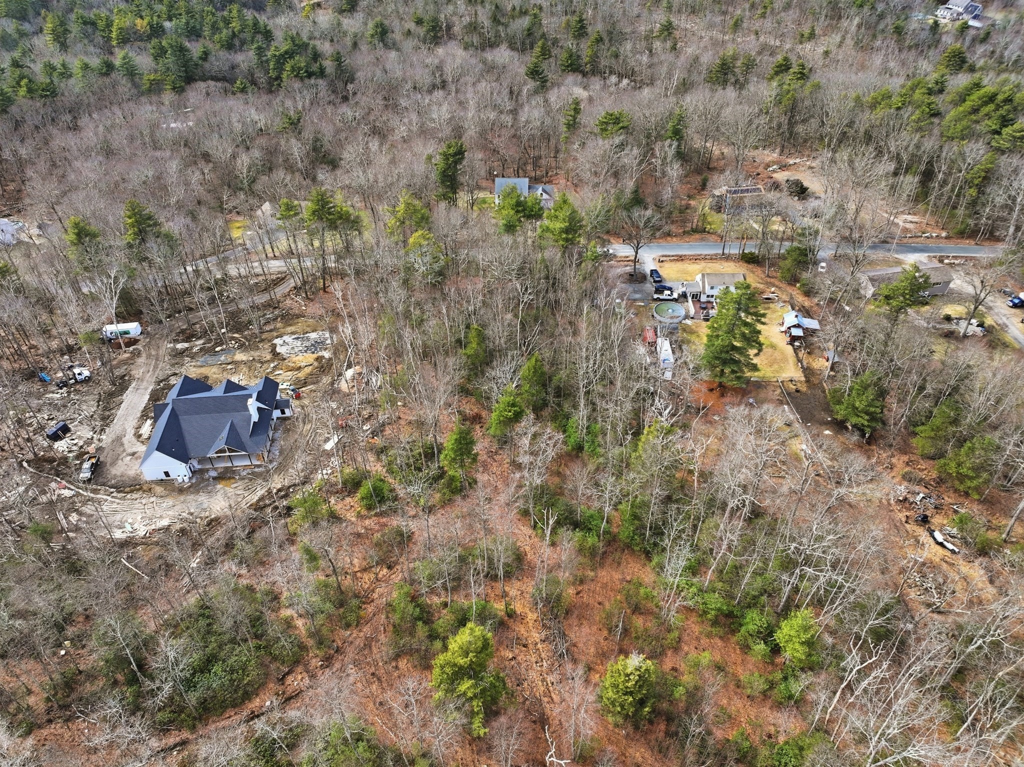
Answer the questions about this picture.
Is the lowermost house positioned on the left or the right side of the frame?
left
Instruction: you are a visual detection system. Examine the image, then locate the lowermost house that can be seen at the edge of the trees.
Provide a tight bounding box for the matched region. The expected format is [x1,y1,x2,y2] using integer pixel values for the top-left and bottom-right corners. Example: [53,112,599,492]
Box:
[139,372,294,478]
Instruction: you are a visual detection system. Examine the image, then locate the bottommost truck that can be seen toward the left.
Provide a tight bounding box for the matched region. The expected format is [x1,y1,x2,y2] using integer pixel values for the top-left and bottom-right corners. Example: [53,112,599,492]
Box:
[74,450,103,477]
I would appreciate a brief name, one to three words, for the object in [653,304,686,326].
swimming pool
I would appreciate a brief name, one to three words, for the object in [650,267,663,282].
vehicle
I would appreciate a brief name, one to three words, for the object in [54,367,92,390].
truck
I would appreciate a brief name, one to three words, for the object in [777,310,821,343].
shed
